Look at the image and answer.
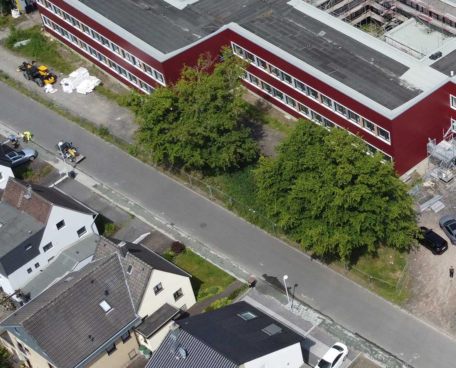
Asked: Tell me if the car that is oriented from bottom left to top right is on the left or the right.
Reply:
right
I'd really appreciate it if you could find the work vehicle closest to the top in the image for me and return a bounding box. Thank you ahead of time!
[14,66,57,89]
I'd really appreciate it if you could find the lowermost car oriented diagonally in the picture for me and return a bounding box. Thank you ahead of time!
[311,338,356,368]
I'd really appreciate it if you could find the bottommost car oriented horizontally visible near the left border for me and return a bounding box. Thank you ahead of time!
[7,147,46,168]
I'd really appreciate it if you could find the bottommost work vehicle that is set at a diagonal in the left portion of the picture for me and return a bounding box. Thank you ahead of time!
[57,136,87,167]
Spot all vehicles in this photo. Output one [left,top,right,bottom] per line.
[413,222,452,258]
[57,136,87,167]
[311,338,356,368]
[7,147,46,168]
[437,213,456,249]
[14,66,57,89]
